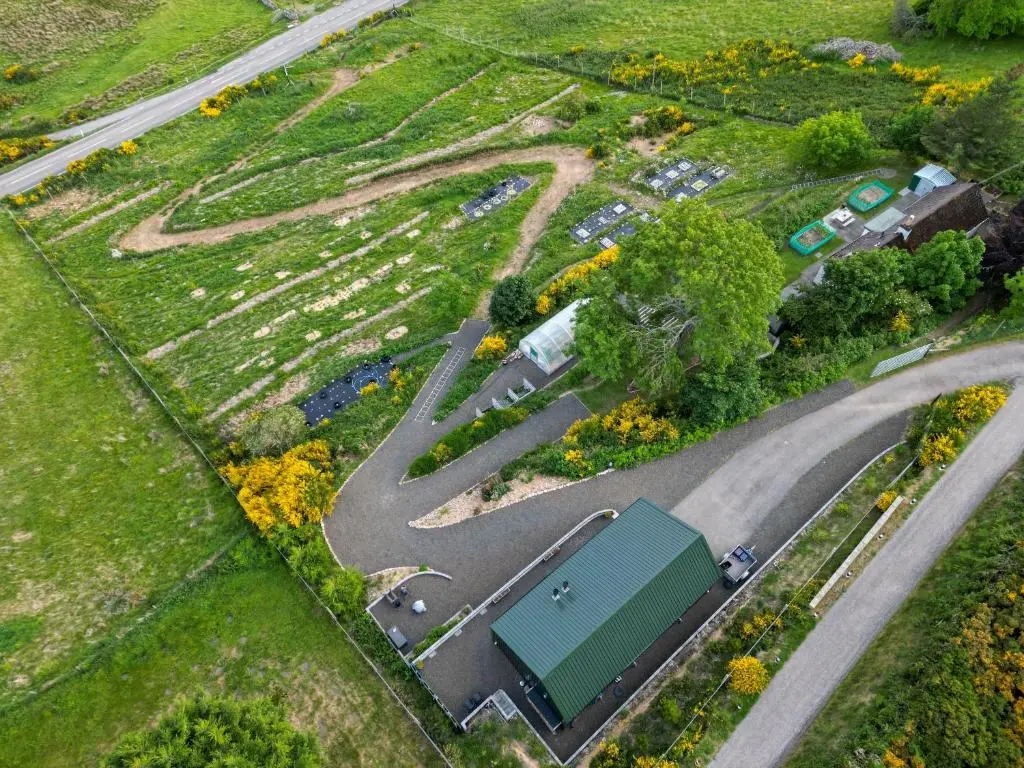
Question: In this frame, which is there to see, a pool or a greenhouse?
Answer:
greenhouse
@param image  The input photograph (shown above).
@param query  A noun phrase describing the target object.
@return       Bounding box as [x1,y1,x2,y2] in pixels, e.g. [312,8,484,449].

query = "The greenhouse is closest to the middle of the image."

[517,292,595,374]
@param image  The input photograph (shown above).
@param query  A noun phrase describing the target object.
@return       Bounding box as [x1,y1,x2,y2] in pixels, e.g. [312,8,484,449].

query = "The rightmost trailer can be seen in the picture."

[717,543,757,584]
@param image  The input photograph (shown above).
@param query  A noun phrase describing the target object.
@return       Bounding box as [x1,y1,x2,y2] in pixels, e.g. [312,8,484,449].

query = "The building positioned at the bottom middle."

[490,498,722,730]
